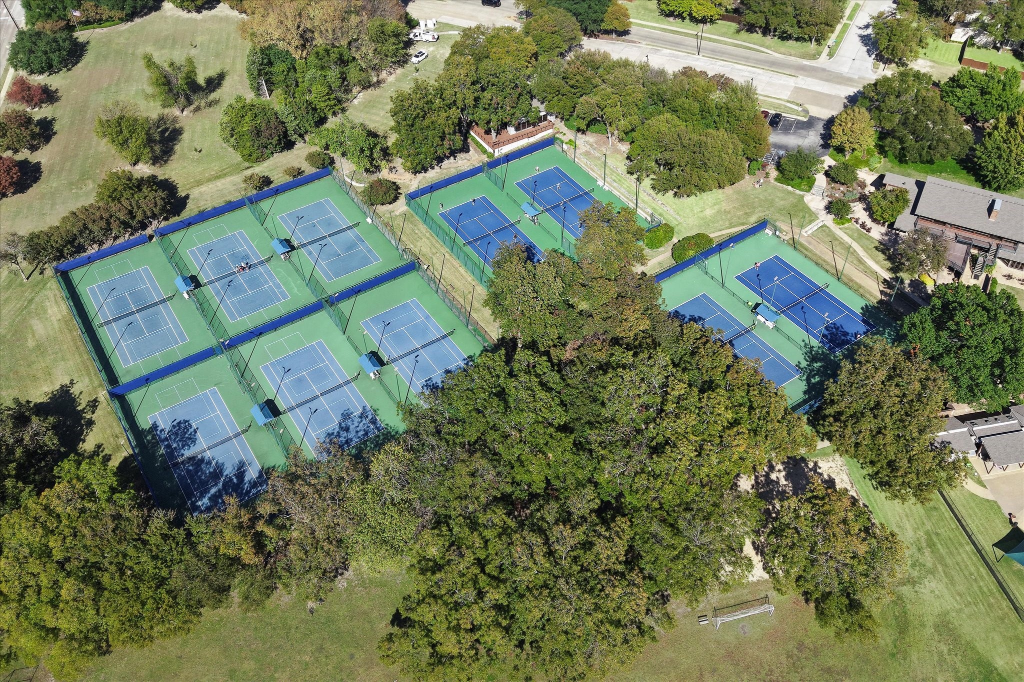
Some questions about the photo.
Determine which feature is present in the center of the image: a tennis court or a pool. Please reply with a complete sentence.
Looking in the center of the image, you will find a tennis court.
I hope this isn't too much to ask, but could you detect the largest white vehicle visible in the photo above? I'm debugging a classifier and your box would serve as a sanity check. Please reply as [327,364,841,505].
[411,29,436,42]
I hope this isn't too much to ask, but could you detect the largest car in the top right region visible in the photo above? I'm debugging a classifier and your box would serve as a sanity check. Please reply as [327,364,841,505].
[770,113,782,126]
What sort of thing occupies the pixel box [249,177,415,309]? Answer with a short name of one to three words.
tennis court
